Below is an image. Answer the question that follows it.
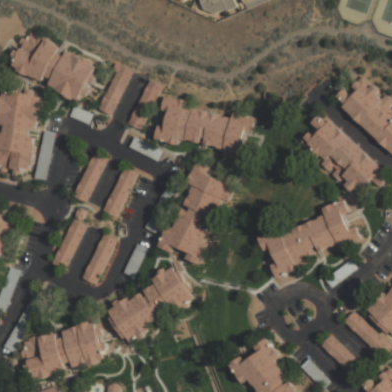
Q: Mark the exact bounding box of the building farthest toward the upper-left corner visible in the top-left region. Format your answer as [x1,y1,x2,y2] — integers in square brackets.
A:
[16,36,96,98]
